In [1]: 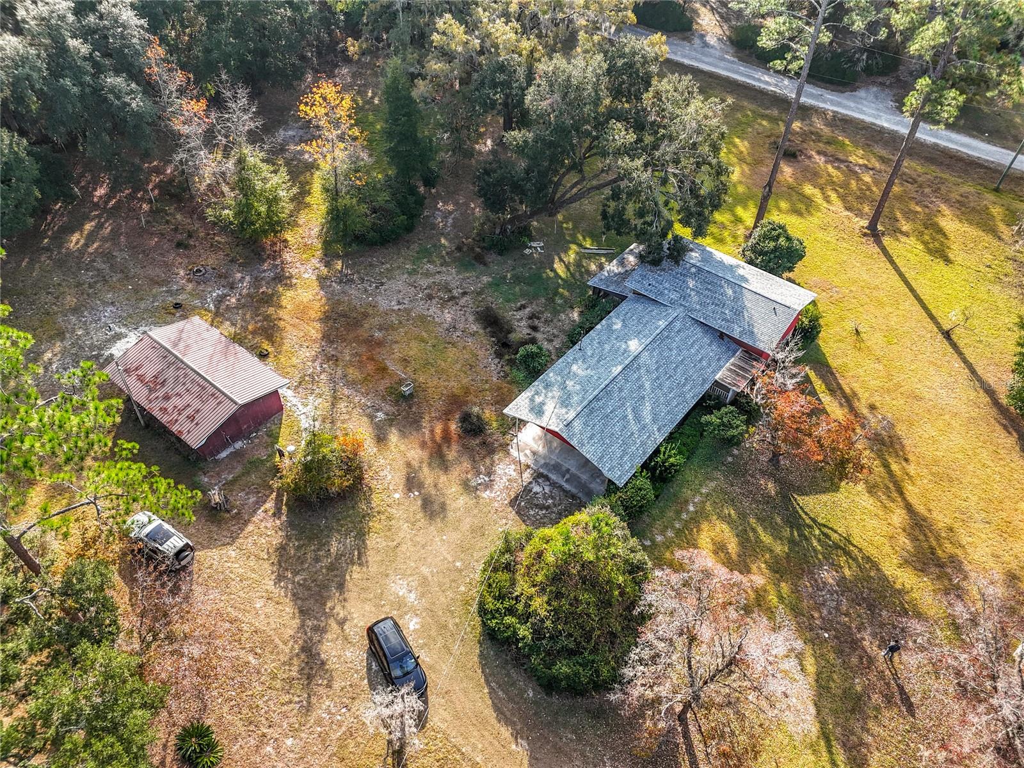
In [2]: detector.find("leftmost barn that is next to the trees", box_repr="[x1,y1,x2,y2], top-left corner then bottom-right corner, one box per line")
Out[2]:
[101,316,292,464]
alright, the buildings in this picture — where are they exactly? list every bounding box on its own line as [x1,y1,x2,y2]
[500,235,820,513]
[101,316,292,464]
